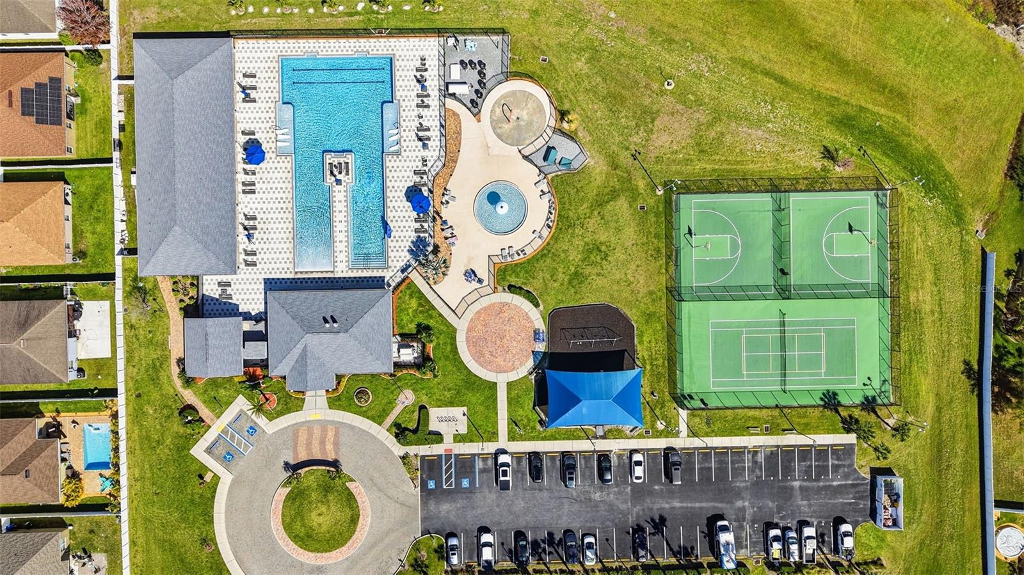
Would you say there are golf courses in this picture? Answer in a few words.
No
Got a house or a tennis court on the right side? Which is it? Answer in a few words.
tennis court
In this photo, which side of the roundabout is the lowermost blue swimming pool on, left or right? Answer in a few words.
to its left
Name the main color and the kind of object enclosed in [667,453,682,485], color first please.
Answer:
gray car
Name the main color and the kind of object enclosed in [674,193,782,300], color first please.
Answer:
green basketball court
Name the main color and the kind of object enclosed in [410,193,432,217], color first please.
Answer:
blue umbrella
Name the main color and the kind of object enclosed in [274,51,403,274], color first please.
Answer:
blue swimming pool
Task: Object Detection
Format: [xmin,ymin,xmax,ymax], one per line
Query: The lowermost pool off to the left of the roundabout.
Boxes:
[82,421,113,473]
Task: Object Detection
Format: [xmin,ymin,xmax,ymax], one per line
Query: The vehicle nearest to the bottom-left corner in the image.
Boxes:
[446,536,460,566]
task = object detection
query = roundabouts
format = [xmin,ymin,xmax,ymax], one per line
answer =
[214,410,420,575]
